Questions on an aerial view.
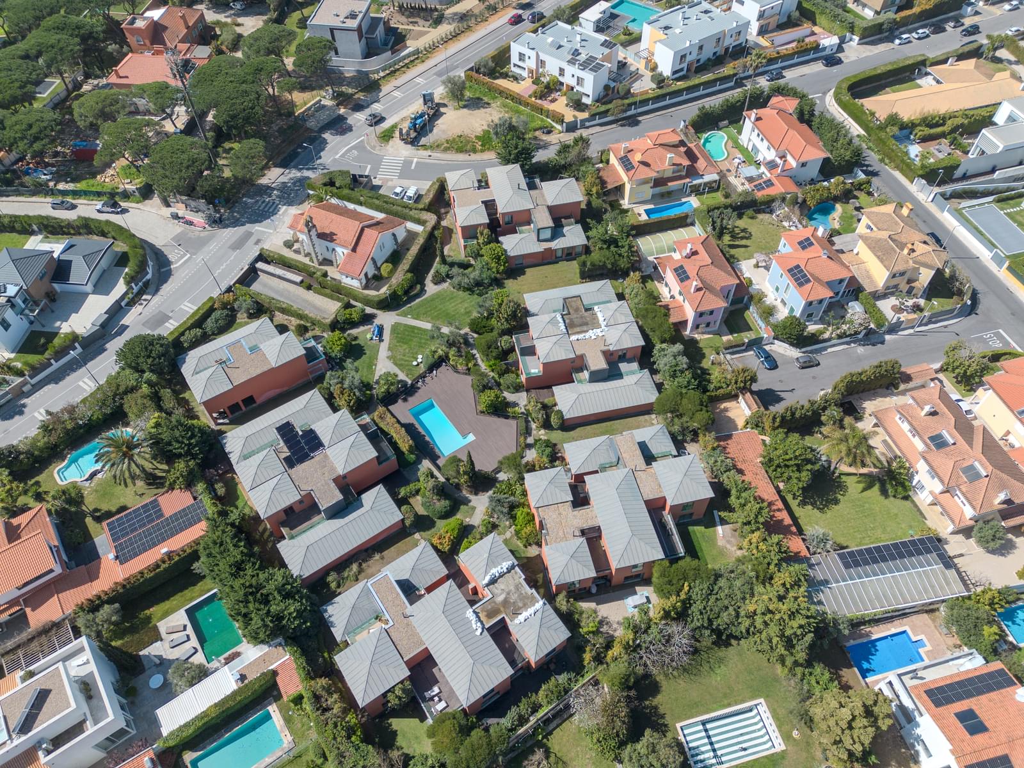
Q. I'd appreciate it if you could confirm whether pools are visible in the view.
Yes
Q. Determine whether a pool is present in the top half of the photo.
Yes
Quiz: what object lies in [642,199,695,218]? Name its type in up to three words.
swimming pool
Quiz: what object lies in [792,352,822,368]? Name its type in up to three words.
car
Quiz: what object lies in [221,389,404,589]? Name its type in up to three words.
house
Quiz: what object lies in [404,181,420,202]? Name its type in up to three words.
car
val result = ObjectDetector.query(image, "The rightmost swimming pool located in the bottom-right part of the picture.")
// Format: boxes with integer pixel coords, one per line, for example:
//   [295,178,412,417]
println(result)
[997,601,1024,647]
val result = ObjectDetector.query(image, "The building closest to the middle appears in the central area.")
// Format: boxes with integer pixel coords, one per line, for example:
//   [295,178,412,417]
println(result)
[513,280,658,431]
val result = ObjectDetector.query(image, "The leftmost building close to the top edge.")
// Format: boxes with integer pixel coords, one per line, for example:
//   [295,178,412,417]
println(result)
[107,0,217,97]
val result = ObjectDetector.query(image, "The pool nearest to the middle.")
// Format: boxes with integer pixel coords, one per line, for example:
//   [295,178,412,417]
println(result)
[409,398,476,458]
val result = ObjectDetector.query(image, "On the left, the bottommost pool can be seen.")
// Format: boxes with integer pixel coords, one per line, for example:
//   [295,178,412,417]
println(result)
[181,701,292,768]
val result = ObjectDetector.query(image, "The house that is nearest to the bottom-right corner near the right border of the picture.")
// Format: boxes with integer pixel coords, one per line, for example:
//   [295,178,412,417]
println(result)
[876,651,1024,768]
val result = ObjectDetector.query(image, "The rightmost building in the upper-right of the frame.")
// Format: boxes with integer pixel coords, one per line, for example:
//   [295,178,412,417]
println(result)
[948,96,1024,175]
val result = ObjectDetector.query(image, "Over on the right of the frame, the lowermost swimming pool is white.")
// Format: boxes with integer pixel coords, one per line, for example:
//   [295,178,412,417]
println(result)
[675,697,783,768]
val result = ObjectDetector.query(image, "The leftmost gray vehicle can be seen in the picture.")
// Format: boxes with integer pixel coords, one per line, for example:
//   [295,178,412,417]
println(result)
[48,198,75,211]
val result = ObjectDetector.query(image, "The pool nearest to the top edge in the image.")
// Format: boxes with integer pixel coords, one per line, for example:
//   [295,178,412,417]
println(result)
[613,0,664,29]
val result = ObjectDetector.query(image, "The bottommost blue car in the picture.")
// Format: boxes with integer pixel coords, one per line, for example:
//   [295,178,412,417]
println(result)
[751,344,778,371]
